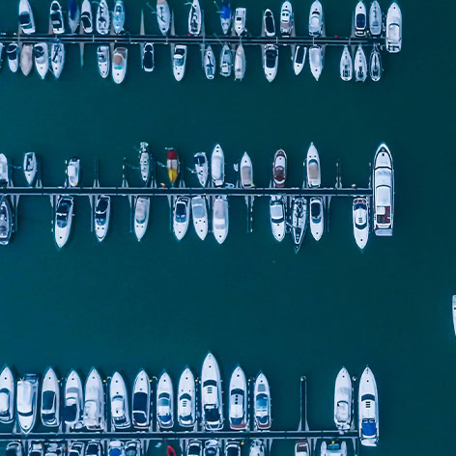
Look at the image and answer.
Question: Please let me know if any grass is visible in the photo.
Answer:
No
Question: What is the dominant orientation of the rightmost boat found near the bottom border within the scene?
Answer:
from top to bottom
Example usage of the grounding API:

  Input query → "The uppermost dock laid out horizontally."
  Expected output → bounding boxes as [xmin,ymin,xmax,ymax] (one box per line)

[0,7,384,72]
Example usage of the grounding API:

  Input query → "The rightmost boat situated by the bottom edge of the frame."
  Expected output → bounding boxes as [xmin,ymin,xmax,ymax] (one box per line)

[358,365,379,448]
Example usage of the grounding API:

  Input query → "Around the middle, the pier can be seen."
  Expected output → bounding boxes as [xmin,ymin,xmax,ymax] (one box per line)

[0,160,372,232]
